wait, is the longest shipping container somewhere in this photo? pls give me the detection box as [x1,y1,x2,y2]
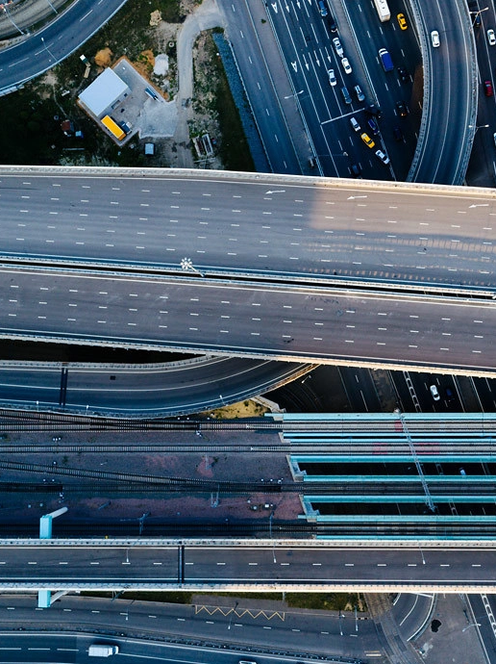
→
[101,115,128,143]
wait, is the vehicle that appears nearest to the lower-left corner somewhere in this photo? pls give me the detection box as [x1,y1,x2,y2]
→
[86,645,118,659]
